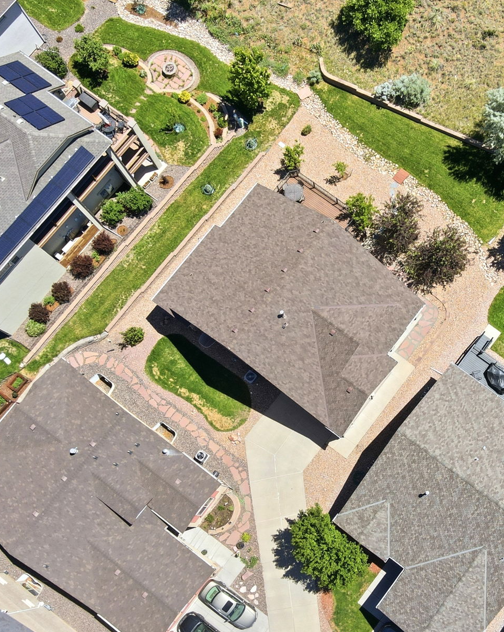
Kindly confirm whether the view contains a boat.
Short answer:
No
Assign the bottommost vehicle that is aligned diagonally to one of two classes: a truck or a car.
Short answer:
car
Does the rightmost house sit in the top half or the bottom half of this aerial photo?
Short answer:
bottom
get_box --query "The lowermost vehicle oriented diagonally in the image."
[199,578,261,630]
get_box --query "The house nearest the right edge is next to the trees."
[335,362,504,632]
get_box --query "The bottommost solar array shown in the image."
[0,146,94,264]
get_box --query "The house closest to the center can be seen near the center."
[152,183,425,438]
